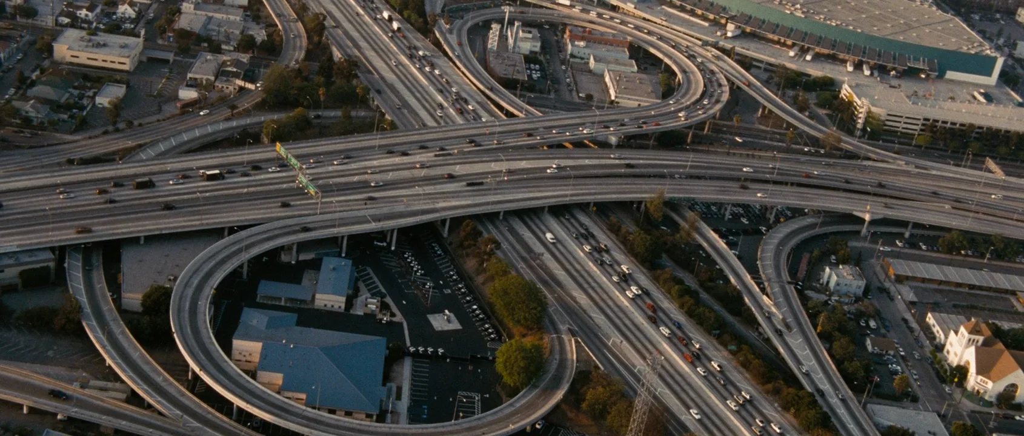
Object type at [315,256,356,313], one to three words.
building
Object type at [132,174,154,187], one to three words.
vehicle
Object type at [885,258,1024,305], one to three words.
building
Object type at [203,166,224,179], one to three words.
vehicle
